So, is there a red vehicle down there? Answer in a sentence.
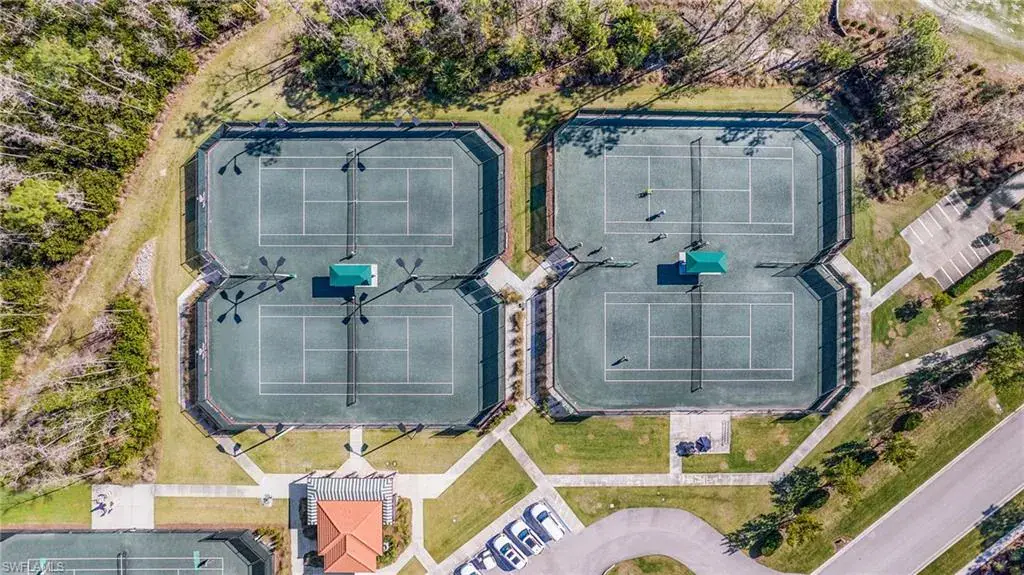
No, no red vehicle can be seen from above.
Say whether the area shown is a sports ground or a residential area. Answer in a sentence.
What you see here is a sports ground.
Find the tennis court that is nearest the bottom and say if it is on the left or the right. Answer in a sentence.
It is on the left.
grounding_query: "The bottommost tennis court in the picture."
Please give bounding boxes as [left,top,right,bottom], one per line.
[0,528,275,575]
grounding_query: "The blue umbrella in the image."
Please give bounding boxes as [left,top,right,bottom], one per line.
[695,436,710,451]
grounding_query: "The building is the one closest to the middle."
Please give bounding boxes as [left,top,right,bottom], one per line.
[329,264,378,287]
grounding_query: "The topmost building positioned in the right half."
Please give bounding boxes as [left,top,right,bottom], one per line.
[679,251,728,275]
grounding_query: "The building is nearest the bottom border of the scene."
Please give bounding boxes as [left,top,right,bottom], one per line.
[317,500,383,574]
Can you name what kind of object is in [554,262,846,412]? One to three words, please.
tennis court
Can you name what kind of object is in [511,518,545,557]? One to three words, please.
car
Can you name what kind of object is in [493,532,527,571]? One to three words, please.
car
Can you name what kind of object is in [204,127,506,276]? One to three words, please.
tennis court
